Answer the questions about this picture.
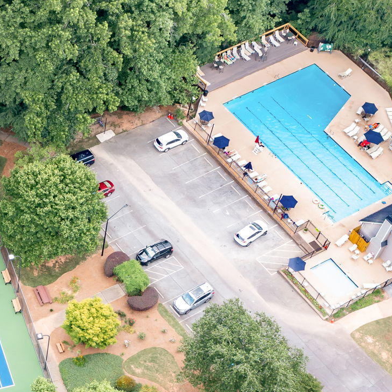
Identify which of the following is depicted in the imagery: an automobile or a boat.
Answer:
automobile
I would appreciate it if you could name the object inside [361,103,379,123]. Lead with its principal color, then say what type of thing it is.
blue umbrella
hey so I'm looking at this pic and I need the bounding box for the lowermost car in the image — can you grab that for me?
[174,284,216,315]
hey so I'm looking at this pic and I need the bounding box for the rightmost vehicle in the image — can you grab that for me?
[235,220,271,247]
